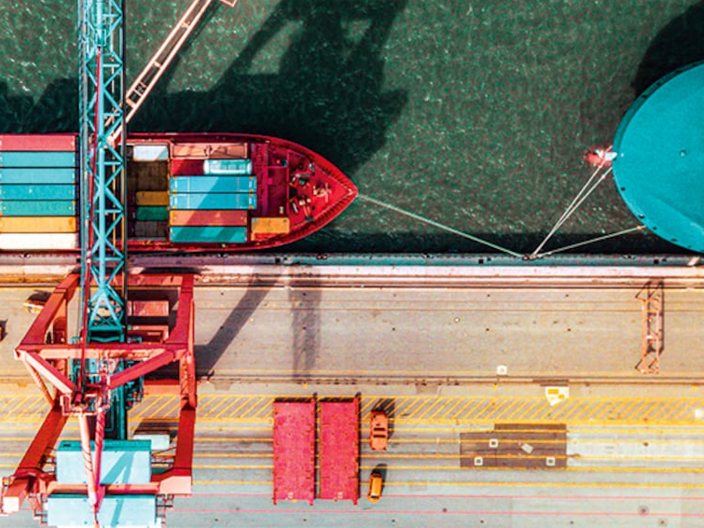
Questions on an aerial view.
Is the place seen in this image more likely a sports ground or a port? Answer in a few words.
port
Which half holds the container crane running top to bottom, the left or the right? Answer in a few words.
left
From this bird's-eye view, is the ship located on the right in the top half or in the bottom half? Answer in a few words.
top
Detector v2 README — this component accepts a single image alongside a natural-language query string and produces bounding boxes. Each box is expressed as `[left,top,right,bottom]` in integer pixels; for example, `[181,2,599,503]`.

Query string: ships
[0,0,358,251]
[591,63,704,249]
